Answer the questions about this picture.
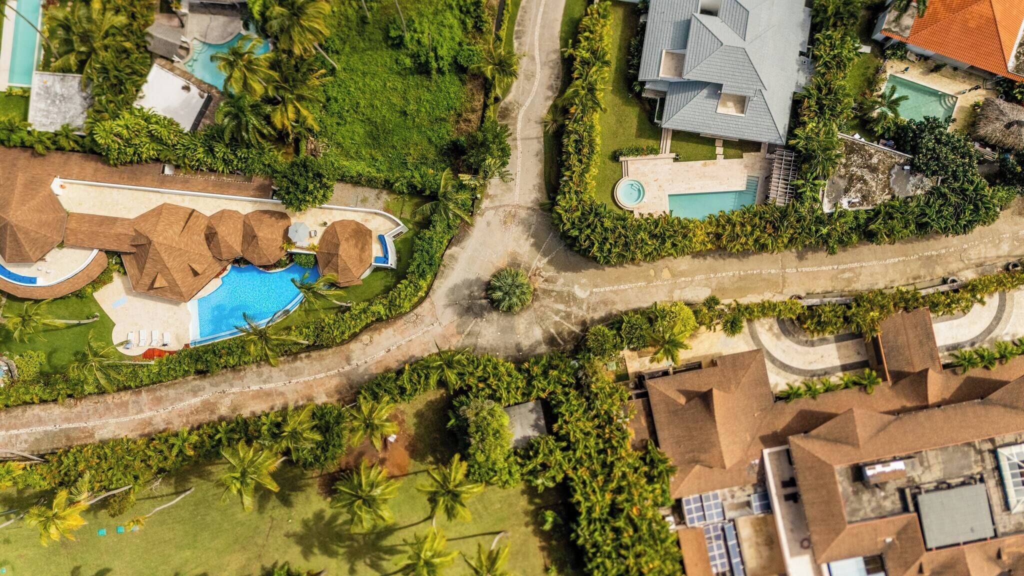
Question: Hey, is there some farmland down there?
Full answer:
No, there's no farmland in this view.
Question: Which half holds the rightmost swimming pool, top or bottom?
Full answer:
Seen from above, the rightmost swimming pool lies in the top half of the view.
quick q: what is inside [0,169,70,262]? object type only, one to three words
building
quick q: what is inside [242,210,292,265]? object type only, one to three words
building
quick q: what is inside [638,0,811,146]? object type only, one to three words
house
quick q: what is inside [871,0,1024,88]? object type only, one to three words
house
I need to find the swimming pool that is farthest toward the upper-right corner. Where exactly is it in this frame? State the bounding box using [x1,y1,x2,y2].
[885,71,962,140]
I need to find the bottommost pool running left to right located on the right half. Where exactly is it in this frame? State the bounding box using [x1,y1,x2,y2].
[669,176,759,225]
